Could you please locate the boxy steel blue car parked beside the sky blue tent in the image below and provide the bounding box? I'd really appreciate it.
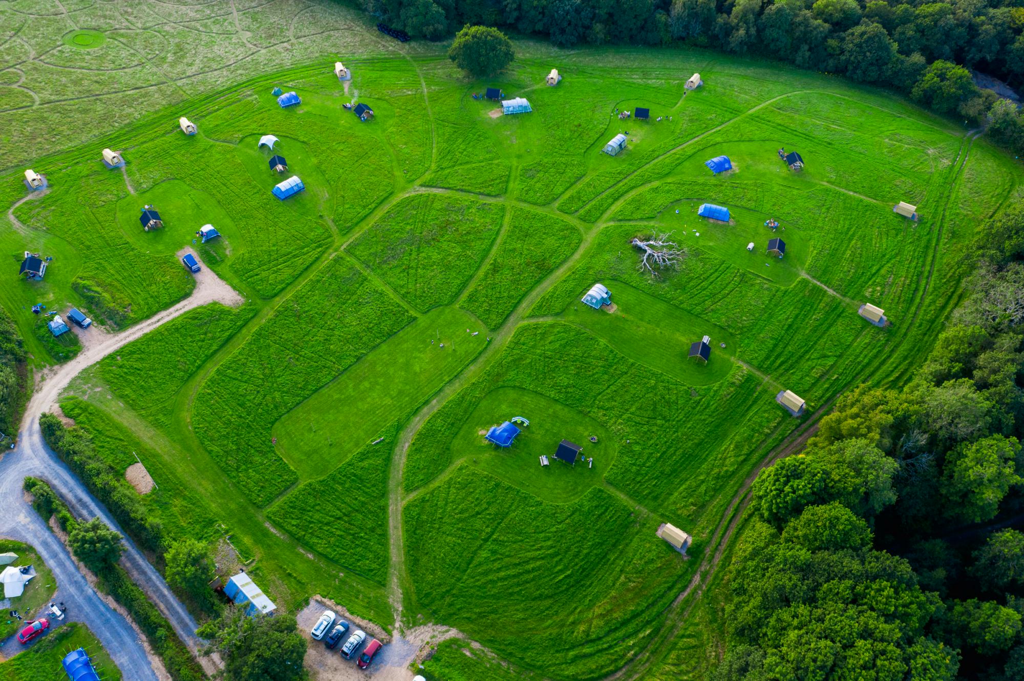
[66,308,92,329]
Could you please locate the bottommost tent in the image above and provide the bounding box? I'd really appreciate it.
[55,643,116,681]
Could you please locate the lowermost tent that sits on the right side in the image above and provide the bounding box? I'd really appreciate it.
[659,522,689,552]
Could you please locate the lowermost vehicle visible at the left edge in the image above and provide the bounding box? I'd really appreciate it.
[16,619,53,647]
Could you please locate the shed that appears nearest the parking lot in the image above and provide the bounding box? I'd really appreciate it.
[223,573,280,619]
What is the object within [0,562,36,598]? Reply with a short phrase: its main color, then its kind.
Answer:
white tent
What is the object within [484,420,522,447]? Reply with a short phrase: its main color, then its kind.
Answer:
blue tent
